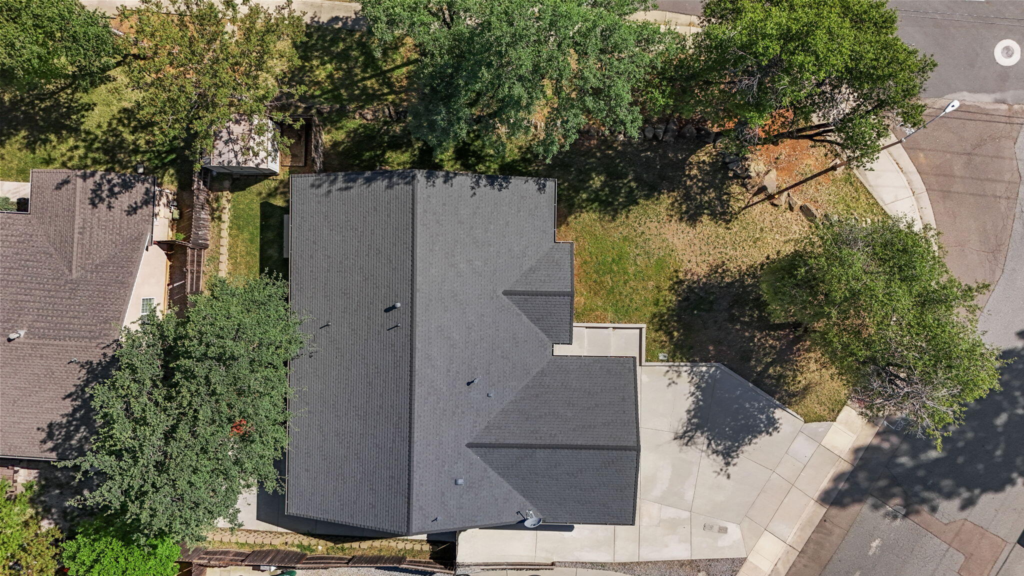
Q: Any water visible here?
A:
No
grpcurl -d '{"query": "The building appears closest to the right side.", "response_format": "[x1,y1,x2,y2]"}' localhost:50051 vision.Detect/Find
[283,168,642,536]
